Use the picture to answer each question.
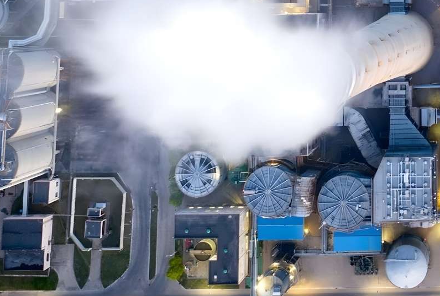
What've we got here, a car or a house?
house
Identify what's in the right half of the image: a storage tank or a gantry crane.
storage tank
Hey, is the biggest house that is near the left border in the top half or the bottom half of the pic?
bottom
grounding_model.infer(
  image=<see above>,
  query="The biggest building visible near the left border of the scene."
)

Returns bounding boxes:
[1,213,56,270]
